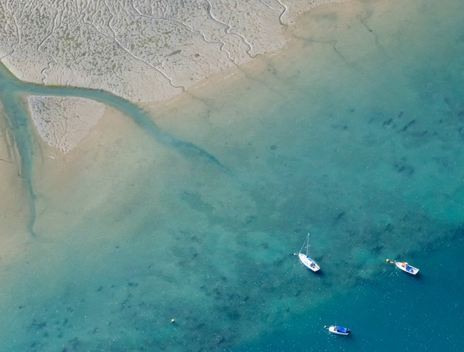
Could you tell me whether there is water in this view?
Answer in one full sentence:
Yes, water shows up in the scene.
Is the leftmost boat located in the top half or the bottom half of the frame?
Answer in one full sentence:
It is in the bottom half that the leftmost boat appears.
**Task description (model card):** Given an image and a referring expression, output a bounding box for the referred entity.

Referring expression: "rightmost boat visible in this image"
[395,262,418,276]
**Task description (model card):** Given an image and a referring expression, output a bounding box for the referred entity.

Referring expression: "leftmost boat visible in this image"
[300,237,320,272]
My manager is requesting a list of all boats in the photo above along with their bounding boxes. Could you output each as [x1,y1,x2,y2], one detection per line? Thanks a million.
[395,262,418,276]
[300,237,320,272]
[329,326,352,336]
